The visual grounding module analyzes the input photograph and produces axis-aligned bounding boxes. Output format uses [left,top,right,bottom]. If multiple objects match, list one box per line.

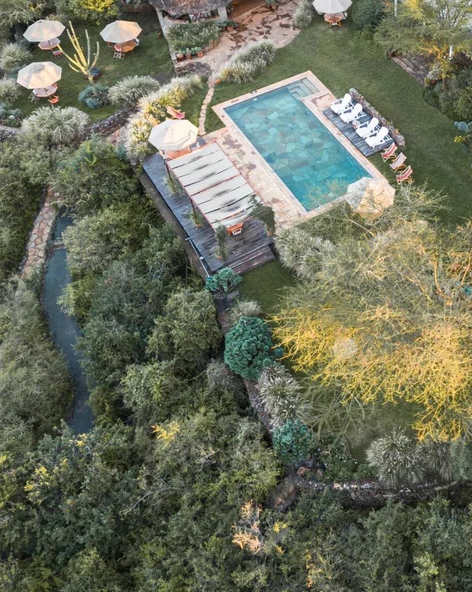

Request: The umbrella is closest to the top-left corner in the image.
[24,24,68,53]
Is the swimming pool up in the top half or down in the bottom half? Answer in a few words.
top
